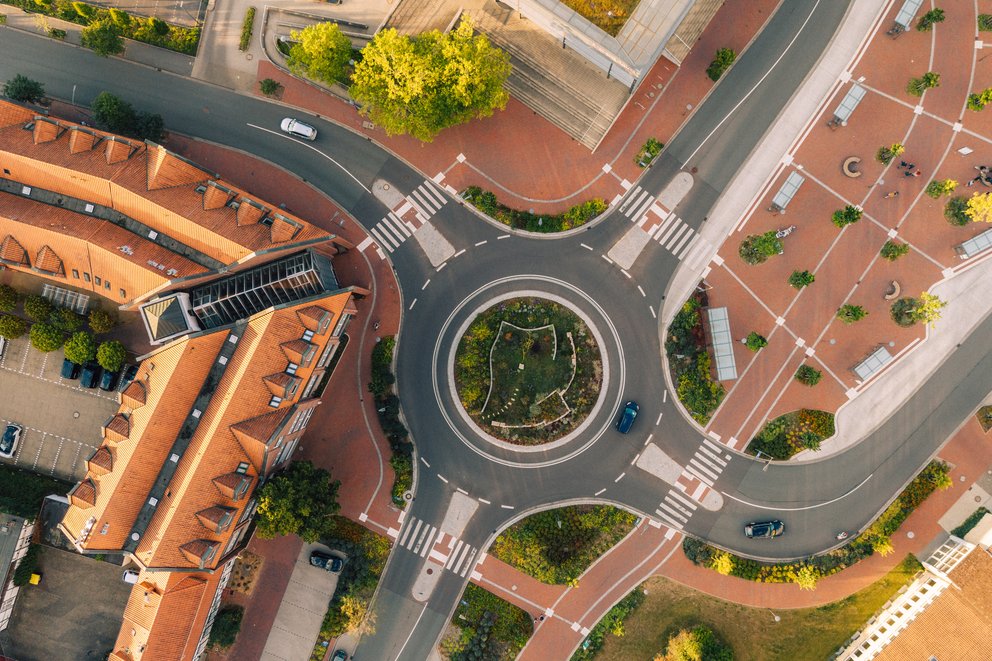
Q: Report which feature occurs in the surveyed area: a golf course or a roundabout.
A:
roundabout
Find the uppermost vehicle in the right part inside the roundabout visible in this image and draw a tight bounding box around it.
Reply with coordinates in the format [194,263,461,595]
[615,400,637,433]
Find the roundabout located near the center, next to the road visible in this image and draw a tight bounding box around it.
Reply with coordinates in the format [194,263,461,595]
[370,134,758,612]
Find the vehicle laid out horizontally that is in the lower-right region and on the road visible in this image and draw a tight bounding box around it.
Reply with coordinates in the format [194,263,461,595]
[744,519,783,538]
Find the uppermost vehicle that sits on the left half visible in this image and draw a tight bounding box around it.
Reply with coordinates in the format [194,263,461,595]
[280,117,320,142]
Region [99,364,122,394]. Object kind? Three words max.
car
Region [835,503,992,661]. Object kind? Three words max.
house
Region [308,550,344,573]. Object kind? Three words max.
car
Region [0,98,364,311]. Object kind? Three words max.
house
